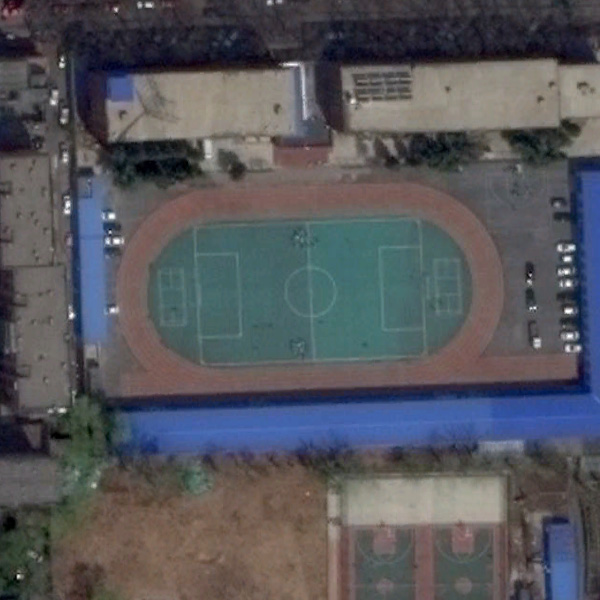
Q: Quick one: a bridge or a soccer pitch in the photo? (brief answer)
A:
soccer pitch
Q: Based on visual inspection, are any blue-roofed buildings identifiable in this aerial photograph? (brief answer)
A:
Yes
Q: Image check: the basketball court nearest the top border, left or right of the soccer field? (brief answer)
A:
to the right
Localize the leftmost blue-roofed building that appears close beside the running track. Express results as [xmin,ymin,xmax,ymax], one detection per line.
[77,173,108,344]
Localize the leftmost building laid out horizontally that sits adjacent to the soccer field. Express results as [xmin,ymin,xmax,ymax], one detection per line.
[101,66,293,141]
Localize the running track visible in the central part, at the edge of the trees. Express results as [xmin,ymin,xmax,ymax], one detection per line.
[117,182,575,412]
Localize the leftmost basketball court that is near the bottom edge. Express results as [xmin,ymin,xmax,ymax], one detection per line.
[357,527,411,600]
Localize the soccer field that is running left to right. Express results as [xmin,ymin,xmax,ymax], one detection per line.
[151,218,469,364]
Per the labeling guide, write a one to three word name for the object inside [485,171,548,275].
basketball court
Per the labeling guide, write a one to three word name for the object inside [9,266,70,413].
building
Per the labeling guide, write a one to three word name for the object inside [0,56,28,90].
house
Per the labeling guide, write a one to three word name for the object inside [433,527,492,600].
basketball court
